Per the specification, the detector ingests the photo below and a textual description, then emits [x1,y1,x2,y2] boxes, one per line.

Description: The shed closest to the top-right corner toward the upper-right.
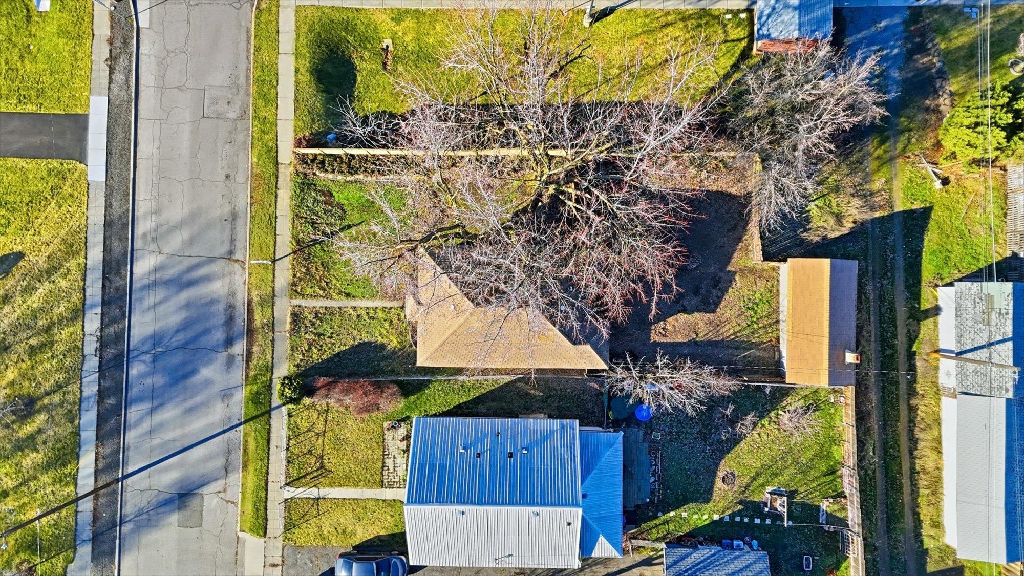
[753,0,833,53]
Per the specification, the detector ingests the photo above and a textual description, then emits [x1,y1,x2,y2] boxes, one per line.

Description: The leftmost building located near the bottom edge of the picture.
[403,415,624,569]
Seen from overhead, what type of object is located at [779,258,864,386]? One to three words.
building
